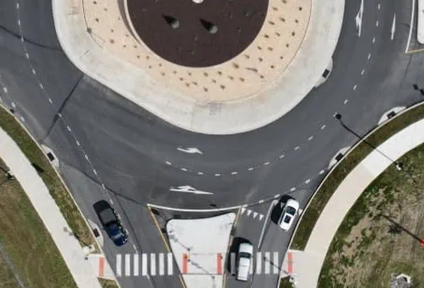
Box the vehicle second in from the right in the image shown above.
[235,241,254,282]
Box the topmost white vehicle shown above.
[278,196,300,233]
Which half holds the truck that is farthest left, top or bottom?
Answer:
bottom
